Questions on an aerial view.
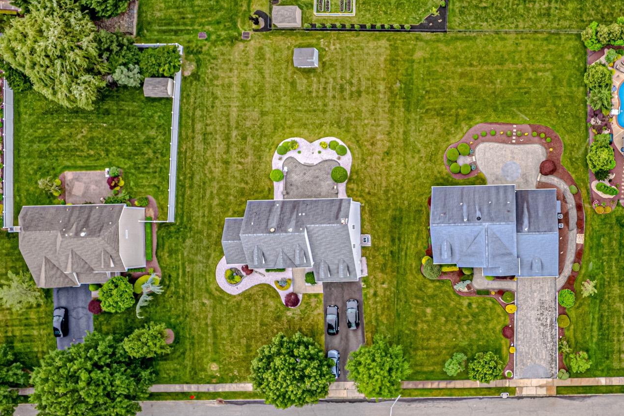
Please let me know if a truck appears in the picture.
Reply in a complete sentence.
No, this view has no truck in it.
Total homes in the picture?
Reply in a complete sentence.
In total, 3 homes can be seen.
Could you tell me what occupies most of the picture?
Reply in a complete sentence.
What you mostly see from above here is grass.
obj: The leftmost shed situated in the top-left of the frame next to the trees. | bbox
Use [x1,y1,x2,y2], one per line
[136,77,172,96]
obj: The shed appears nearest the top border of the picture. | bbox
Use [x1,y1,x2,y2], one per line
[266,1,301,26]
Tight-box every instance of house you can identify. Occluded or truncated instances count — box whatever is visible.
[428,184,560,277]
[218,198,361,282]
[15,204,145,289]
